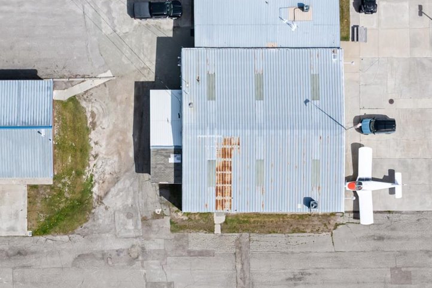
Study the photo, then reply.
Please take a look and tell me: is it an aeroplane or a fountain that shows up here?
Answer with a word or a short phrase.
aeroplane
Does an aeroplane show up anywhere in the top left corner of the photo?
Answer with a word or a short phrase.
No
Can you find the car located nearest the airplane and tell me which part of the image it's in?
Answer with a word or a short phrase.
right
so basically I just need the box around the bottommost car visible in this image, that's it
[358,115,397,136]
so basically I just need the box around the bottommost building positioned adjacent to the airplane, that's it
[178,48,357,222]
